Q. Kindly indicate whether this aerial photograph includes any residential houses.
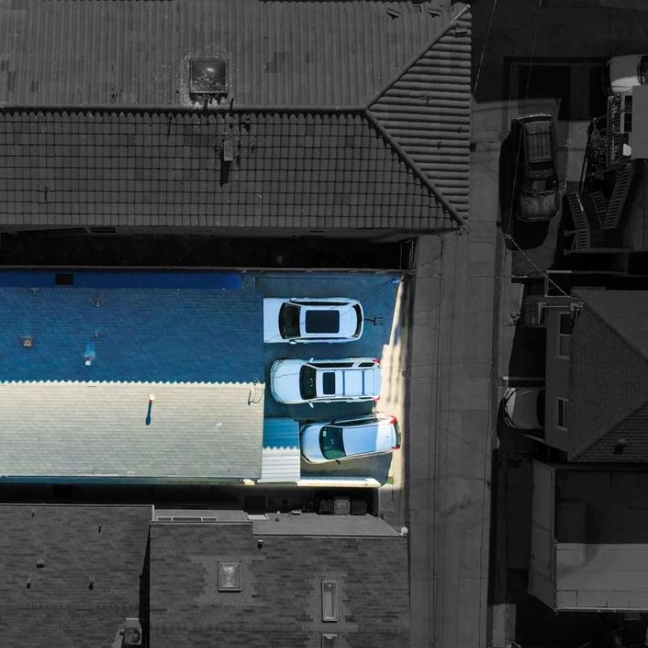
Yes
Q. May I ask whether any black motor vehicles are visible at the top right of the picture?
Yes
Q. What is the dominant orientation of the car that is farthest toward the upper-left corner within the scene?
horizontally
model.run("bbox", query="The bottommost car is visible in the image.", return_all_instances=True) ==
[300,411,404,465]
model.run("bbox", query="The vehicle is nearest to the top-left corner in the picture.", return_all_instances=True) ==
[262,293,365,346]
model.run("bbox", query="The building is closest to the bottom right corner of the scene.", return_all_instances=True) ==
[529,463,648,611]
